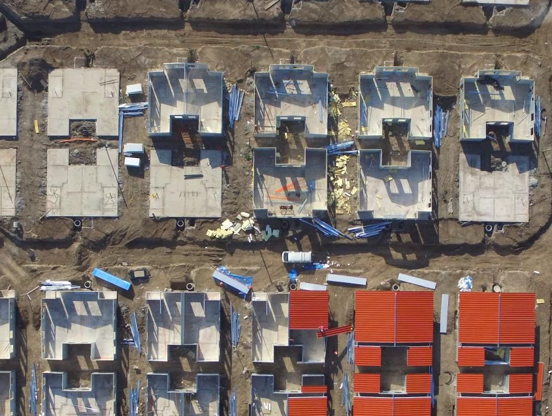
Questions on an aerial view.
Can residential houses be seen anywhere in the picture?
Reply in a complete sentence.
Yes, looking at the shot, I can spot a residential house.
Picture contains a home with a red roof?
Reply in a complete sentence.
Yes, there is a home with a red roof in the image.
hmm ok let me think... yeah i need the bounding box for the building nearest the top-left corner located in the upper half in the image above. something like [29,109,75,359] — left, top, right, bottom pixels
[148,63,220,138]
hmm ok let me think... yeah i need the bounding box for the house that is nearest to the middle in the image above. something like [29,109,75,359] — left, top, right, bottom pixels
[254,147,325,218]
